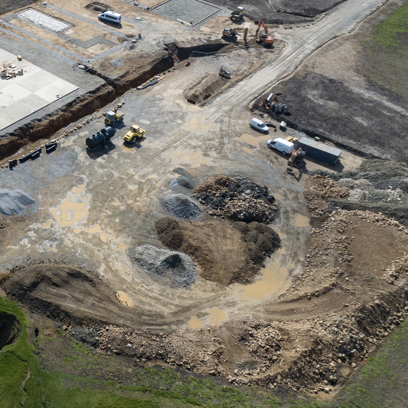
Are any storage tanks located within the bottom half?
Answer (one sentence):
No, there is no storage tank within the bottom half.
